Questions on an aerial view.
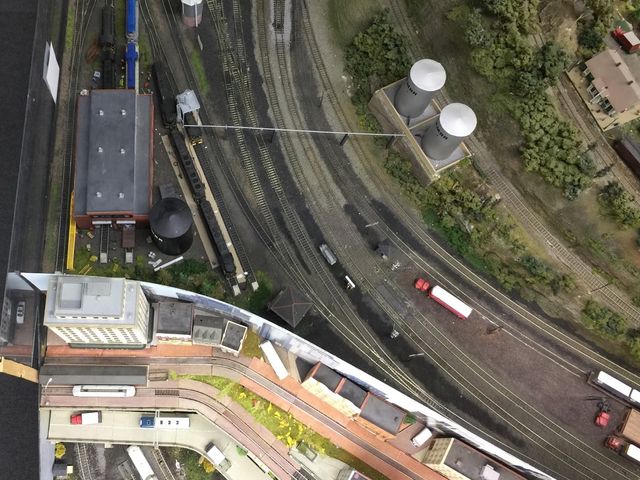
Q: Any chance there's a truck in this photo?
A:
Yes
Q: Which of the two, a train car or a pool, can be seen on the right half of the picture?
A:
train car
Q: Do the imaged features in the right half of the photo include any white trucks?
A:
Yes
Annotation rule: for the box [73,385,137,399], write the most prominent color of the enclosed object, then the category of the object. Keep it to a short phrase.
white train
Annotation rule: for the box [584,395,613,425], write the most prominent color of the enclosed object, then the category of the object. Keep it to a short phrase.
red truck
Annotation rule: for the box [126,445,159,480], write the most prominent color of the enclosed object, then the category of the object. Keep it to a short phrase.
white rail car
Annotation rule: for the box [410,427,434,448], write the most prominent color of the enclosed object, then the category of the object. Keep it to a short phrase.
white vehicle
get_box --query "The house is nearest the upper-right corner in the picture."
[580,53,640,118]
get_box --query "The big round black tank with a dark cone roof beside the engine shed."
[148,201,194,256]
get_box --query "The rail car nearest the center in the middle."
[317,242,339,268]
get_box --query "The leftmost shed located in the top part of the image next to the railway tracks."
[75,86,154,235]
